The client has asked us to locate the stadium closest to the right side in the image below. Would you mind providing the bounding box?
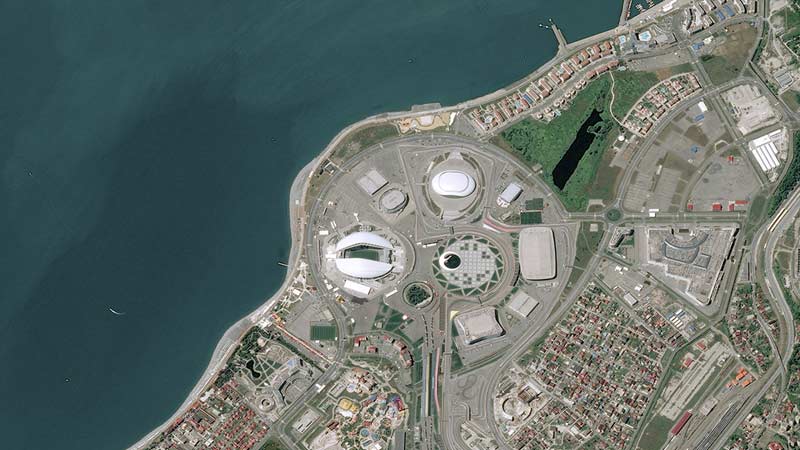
[520,227,555,280]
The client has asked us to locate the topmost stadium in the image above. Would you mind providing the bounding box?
[428,152,480,217]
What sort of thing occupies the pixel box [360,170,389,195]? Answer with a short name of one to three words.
building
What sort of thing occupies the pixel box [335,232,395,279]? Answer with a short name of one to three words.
stadium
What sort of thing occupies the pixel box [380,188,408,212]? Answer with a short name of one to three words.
building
